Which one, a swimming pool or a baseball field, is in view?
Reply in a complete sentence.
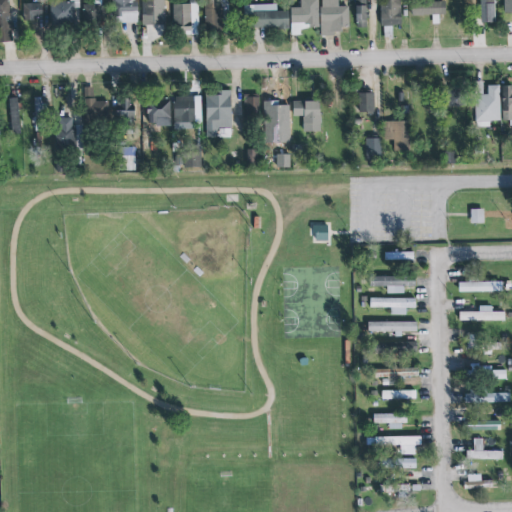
Looking from above, you can make out a baseball field.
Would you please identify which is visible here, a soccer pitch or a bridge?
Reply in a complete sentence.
I can see a soccer pitch in this picture.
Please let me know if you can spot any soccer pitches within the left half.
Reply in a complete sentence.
Yes, you'll find a soccer pitch within the left half.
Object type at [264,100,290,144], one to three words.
house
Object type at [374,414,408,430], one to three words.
house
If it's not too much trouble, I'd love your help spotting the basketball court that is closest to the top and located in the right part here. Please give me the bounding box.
[284,267,340,302]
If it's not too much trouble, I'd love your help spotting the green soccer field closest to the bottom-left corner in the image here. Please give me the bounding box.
[17,402,138,512]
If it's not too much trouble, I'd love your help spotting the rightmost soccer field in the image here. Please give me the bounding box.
[188,465,271,512]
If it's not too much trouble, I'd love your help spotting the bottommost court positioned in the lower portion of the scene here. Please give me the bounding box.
[284,302,340,338]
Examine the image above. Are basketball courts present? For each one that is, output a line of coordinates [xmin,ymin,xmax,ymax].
[284,267,340,302]
[284,302,340,338]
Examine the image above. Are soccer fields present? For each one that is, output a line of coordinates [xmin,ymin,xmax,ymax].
[188,465,271,512]
[78,220,238,378]
[17,402,138,512]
